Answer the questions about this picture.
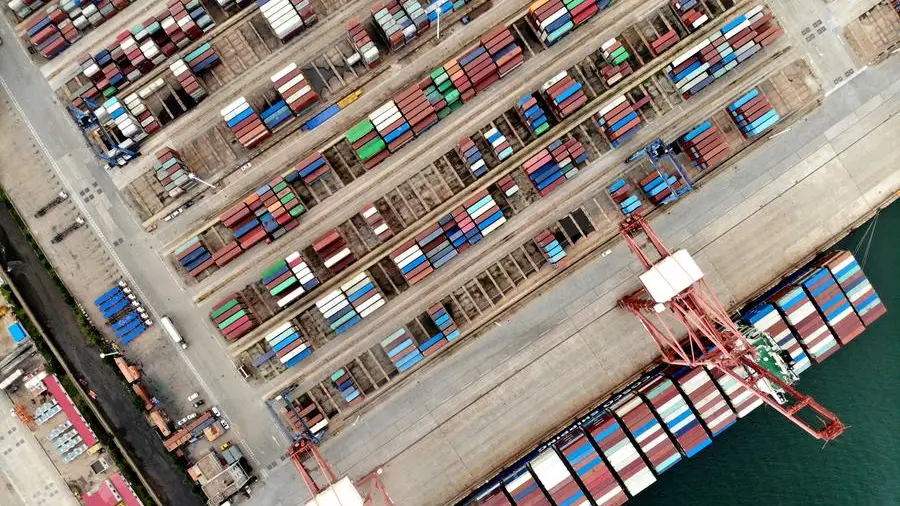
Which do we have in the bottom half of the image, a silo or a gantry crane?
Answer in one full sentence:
There is a gantry crane in the bottom half of the image.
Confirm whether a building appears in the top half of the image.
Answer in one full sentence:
No, in the top half of the image there is no building.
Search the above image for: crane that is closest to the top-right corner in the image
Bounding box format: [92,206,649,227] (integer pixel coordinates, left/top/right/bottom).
[626,141,694,210]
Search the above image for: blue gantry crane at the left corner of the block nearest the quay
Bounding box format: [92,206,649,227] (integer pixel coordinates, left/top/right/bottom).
[268,382,334,445]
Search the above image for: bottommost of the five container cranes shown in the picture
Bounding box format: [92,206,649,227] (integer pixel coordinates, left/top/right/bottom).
[286,436,397,506]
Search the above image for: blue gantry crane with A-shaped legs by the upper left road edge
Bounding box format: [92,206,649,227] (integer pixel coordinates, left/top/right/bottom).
[68,98,142,167]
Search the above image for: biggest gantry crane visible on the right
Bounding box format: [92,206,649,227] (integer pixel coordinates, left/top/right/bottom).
[613,213,856,446]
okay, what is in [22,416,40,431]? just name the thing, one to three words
work vehicle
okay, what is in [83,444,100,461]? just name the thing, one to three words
vehicle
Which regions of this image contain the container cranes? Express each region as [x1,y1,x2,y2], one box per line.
[68,98,142,167]
[626,141,694,210]
[613,213,856,446]
[286,436,397,506]
[268,382,334,445]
